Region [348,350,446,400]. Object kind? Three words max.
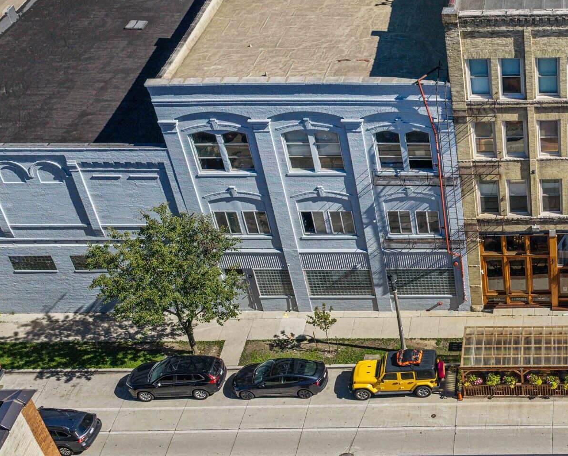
car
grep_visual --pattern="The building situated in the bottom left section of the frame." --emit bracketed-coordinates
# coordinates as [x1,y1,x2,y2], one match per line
[0,401,54,456]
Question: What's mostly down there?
buildings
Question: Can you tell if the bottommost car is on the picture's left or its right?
left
